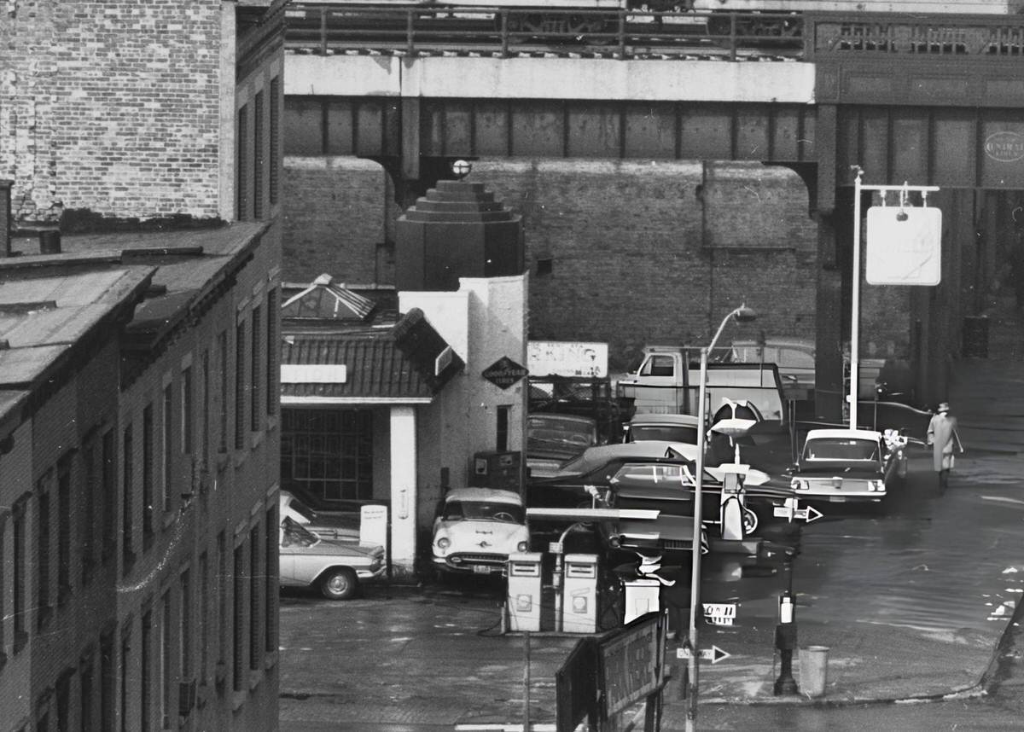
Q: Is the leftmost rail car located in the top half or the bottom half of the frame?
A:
top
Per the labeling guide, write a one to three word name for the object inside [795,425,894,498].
car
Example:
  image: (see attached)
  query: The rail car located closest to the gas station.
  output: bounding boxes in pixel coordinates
[280,0,646,39]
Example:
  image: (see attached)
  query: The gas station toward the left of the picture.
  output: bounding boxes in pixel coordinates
[280,159,530,574]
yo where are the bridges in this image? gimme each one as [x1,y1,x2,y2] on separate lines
[280,0,1024,419]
